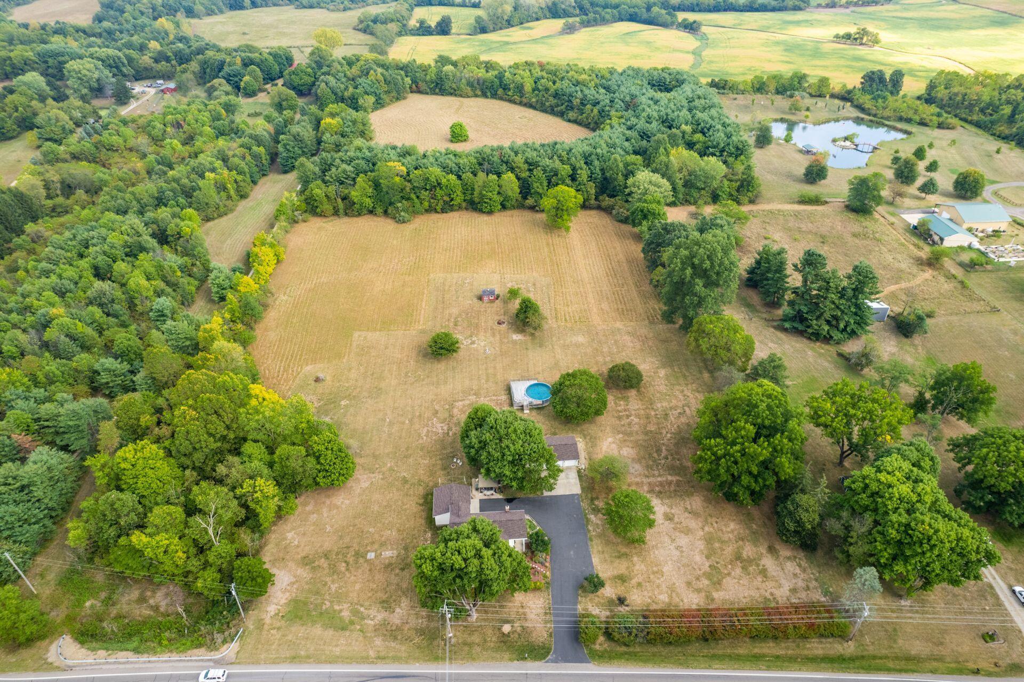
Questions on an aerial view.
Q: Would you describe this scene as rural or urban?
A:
rural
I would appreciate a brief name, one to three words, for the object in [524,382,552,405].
swimming pool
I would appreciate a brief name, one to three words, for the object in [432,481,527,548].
house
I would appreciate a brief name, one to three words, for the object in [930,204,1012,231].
barn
